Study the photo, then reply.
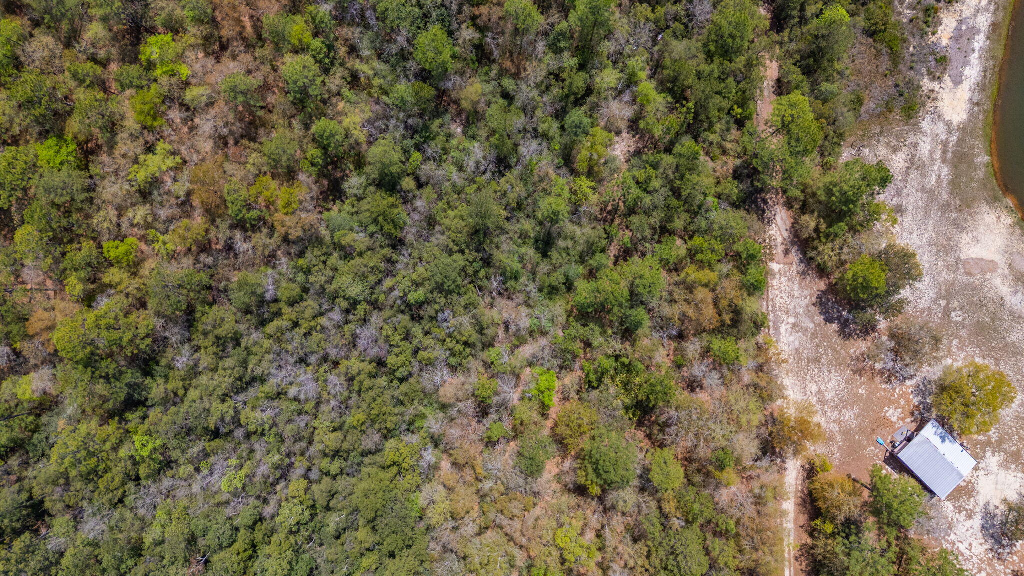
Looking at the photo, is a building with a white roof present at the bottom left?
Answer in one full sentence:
No, there's no building with a white roof to be seen at the bottom left.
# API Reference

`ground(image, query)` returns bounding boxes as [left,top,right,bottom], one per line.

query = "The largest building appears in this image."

[887,419,977,500]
